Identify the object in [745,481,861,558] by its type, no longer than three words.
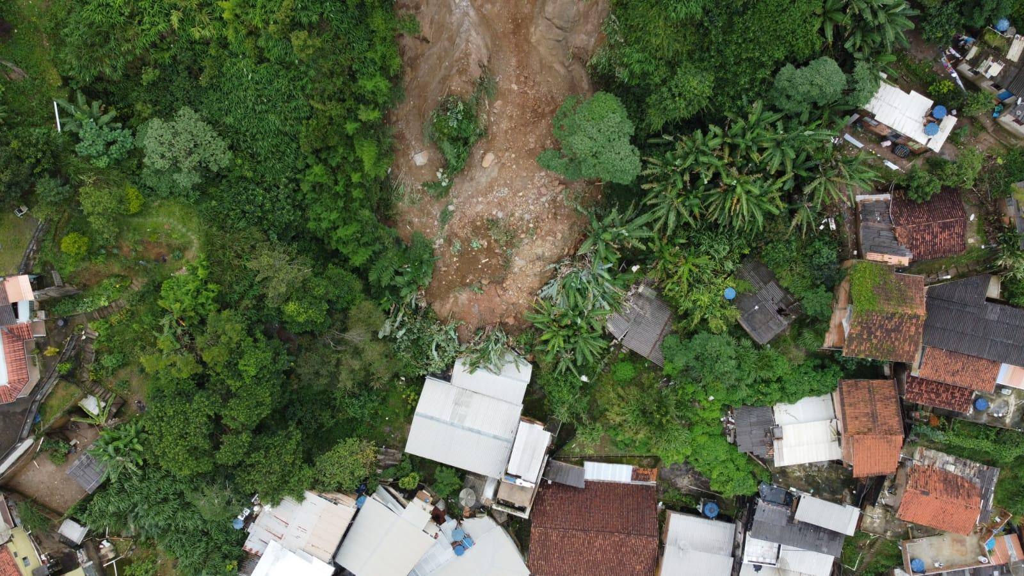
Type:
house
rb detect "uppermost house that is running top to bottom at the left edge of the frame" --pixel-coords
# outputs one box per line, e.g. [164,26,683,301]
[0,275,62,404]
